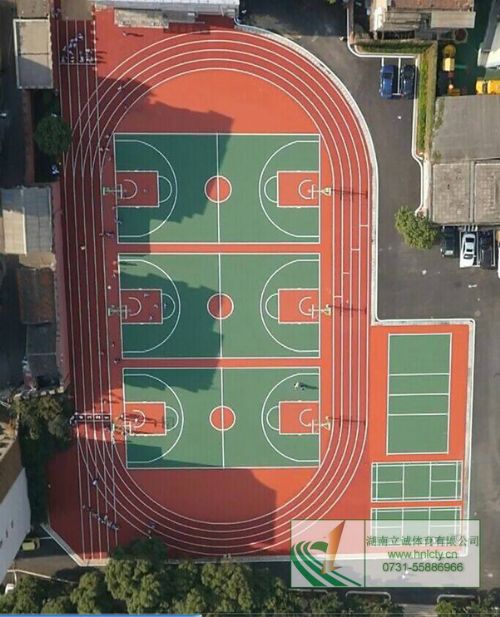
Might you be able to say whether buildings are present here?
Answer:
Yes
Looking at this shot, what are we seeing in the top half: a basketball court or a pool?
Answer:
basketball court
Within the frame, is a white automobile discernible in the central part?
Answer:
No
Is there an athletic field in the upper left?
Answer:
No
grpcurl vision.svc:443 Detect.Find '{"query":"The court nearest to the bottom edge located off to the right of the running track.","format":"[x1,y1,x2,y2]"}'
[371,507,461,546]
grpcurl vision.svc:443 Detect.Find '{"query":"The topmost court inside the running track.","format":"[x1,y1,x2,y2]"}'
[114,132,321,245]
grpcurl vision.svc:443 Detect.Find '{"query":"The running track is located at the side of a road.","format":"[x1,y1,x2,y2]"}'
[48,0,372,557]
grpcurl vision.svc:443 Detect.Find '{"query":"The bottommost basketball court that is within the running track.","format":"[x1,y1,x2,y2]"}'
[123,368,320,468]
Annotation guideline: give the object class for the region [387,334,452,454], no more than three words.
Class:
sports court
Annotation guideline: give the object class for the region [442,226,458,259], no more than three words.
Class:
car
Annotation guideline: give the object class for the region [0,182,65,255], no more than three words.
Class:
shed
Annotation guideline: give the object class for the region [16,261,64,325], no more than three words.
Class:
building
